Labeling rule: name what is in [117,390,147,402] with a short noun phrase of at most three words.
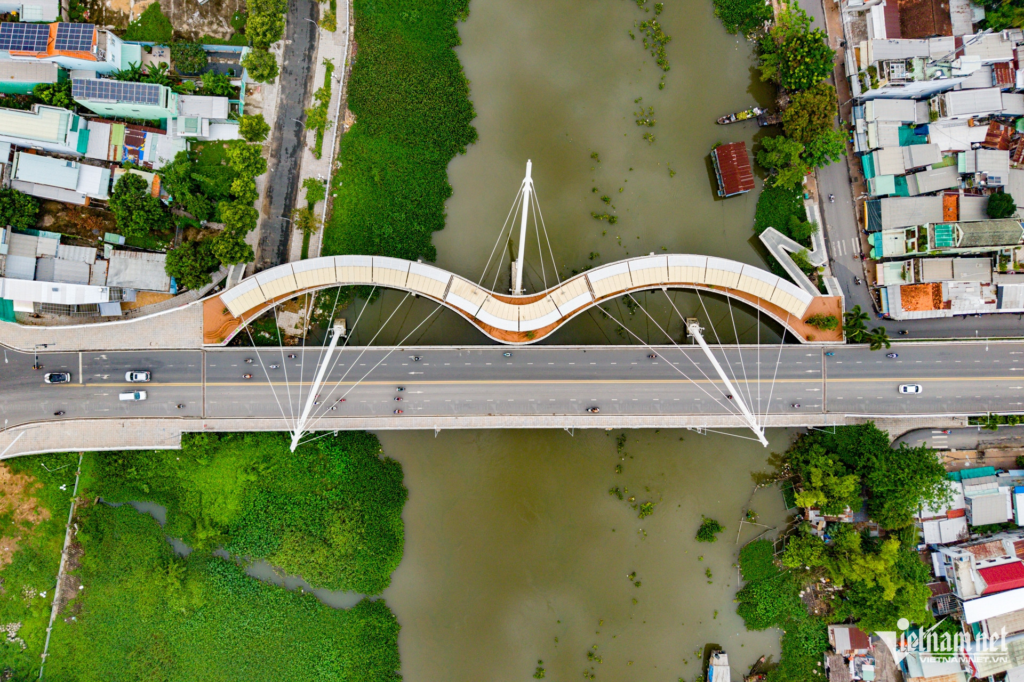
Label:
vehicle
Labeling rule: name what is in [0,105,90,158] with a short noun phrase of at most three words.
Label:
house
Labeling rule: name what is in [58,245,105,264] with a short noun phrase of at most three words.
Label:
shed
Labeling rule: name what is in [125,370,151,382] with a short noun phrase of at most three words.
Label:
vehicle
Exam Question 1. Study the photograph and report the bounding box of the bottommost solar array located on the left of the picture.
[73,79,159,104]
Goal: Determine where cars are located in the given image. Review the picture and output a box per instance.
[899,384,922,395]
[125,370,151,382]
[44,372,71,384]
[117,390,147,402]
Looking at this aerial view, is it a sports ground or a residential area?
residential area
